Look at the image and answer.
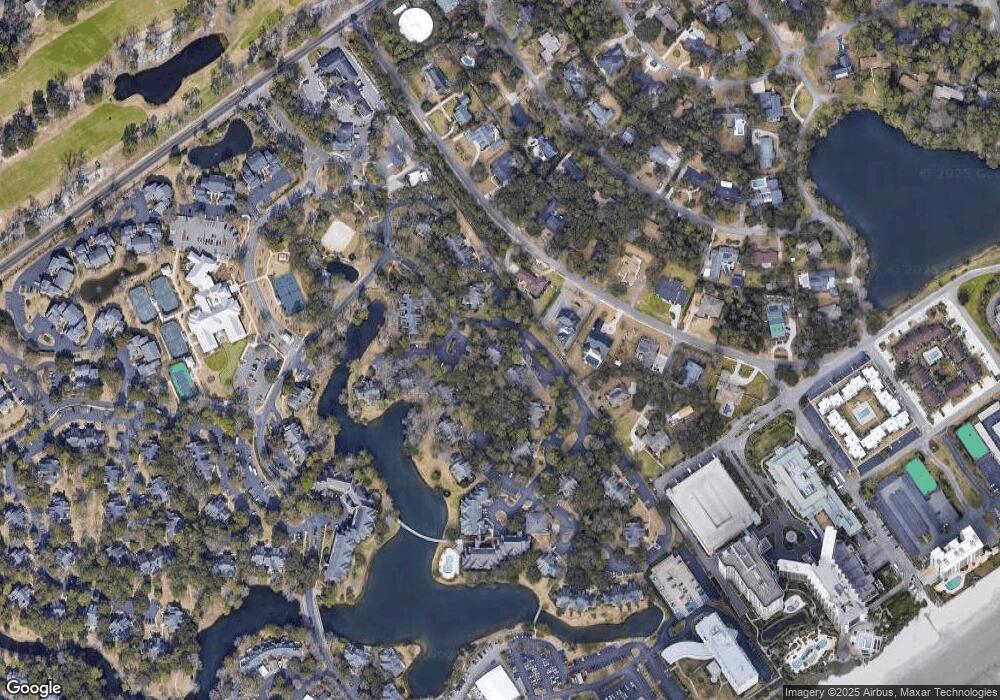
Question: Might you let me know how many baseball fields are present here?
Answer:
zero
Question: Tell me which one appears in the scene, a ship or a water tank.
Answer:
water tank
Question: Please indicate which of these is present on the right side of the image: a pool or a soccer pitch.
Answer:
pool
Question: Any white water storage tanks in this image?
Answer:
Yes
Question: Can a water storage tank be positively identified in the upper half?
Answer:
Yes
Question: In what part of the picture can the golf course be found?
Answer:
top left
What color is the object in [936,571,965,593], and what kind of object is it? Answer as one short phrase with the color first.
white swimming pool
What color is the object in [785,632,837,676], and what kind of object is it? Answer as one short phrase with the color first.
white swimming pool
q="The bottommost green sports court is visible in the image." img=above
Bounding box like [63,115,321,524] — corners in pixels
[905,459,937,493]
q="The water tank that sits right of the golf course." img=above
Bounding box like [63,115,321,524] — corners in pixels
[399,9,433,44]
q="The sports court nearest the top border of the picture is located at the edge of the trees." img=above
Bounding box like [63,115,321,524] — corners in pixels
[322,221,354,252]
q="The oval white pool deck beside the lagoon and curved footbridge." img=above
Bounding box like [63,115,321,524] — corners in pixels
[438,547,460,580]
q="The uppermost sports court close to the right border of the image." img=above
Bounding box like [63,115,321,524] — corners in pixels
[955,423,988,459]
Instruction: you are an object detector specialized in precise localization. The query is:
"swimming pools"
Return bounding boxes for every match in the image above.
[936,571,965,593]
[438,547,460,580]
[923,346,943,365]
[852,630,882,653]
[720,402,733,416]
[461,56,474,66]
[852,399,876,425]
[751,179,767,189]
[785,597,803,613]
[785,632,837,676]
